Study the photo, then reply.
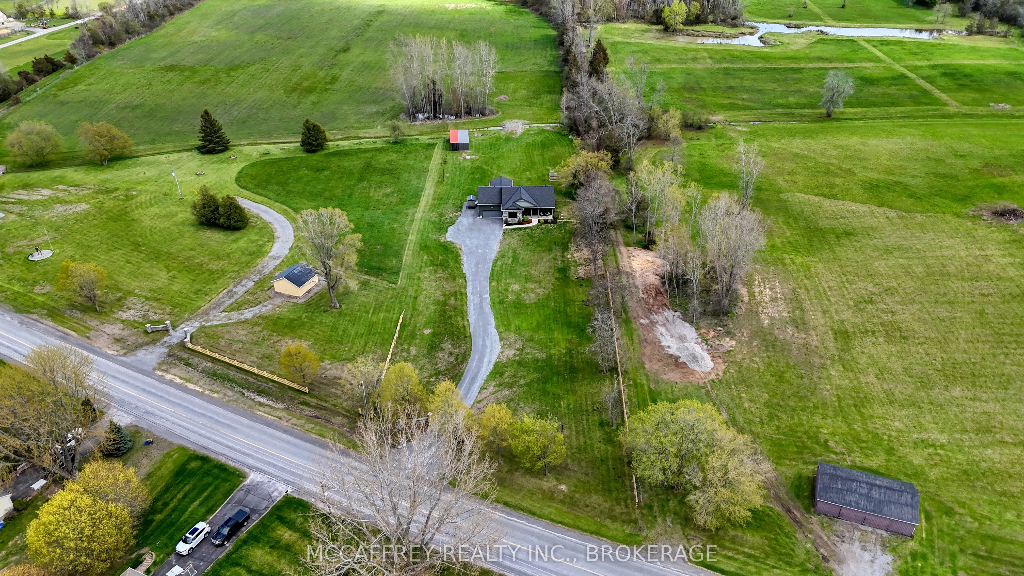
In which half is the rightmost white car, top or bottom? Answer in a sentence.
The bottom half of the photo is where the rightmost white car is.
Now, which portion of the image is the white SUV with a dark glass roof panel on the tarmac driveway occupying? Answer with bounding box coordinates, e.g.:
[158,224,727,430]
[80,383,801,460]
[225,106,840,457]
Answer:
[175,521,211,555]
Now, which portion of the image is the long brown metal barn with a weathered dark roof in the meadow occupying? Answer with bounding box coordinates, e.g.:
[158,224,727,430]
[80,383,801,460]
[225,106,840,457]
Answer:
[815,455,920,537]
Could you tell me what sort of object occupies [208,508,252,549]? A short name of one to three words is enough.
truck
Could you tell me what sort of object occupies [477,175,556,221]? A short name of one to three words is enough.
house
